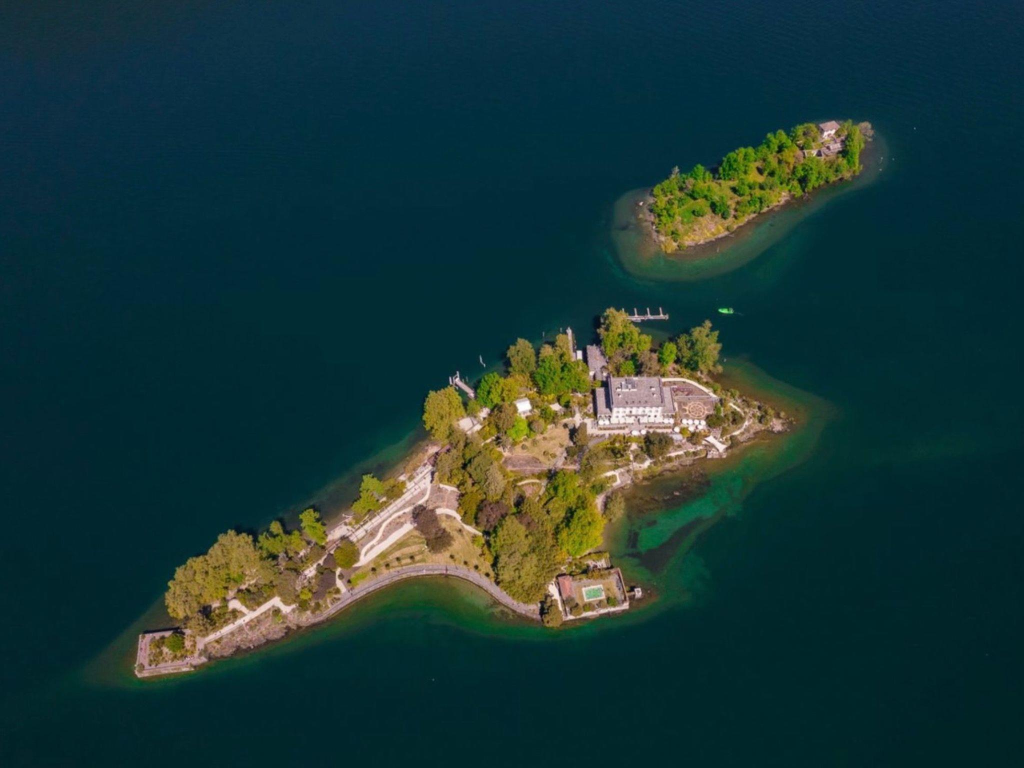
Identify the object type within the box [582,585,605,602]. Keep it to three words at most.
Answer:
swimming pool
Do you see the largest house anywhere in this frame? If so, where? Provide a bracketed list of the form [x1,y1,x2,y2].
[596,375,676,423]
